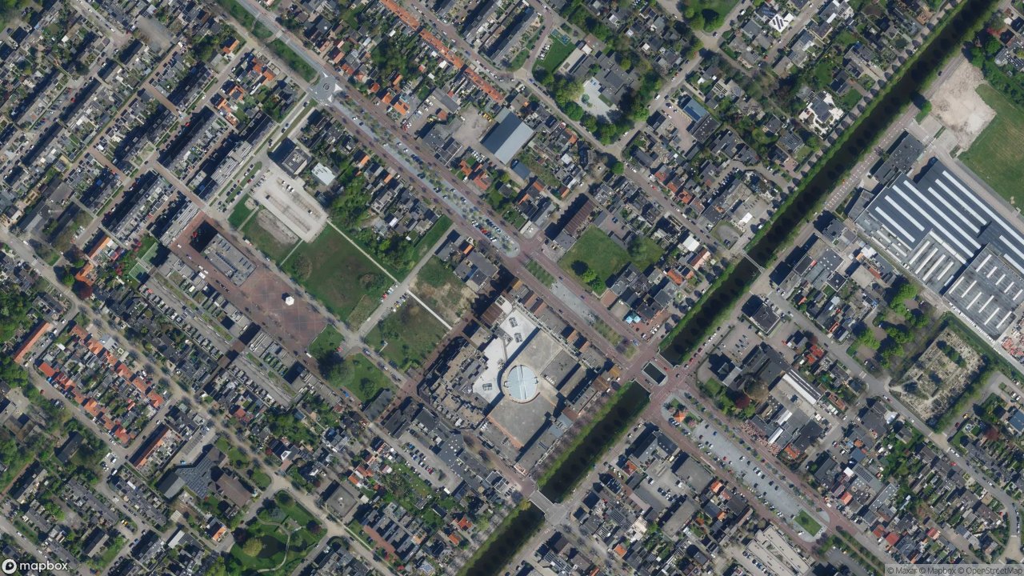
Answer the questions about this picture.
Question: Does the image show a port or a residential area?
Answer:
residential area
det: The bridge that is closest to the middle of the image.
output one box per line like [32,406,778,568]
[632,347,680,396]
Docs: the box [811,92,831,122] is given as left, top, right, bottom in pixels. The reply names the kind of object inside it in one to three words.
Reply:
house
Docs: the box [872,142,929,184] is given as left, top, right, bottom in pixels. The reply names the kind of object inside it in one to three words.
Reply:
building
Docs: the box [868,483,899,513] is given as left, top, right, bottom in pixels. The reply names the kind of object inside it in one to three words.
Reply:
building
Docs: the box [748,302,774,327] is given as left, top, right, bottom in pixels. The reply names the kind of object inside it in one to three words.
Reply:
house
